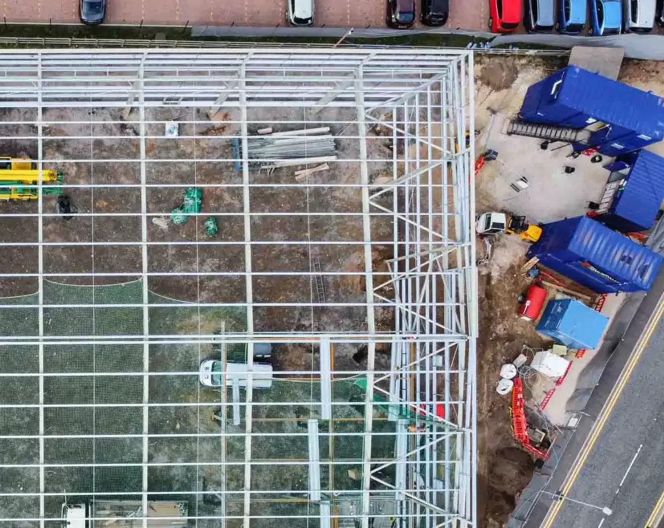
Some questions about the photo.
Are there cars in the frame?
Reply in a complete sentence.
Yes, a car is visible in the scene.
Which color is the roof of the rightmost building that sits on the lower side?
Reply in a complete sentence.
The roof over the rightmost building that sits on the lower side appears blue.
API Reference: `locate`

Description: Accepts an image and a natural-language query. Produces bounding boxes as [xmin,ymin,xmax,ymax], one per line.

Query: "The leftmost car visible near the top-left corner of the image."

[80,0,105,25]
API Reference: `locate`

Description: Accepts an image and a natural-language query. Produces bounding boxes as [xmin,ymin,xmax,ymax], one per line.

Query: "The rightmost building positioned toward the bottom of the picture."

[536,300,610,349]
